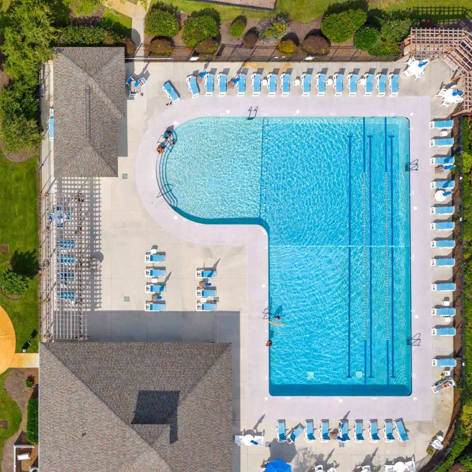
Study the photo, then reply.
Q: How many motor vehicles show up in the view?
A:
zero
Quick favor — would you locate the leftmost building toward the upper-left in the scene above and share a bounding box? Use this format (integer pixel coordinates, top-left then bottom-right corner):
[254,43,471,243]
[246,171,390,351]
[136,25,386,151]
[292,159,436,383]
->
[52,46,122,177]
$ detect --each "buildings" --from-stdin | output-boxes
[52,46,122,177]
[38,342,234,472]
